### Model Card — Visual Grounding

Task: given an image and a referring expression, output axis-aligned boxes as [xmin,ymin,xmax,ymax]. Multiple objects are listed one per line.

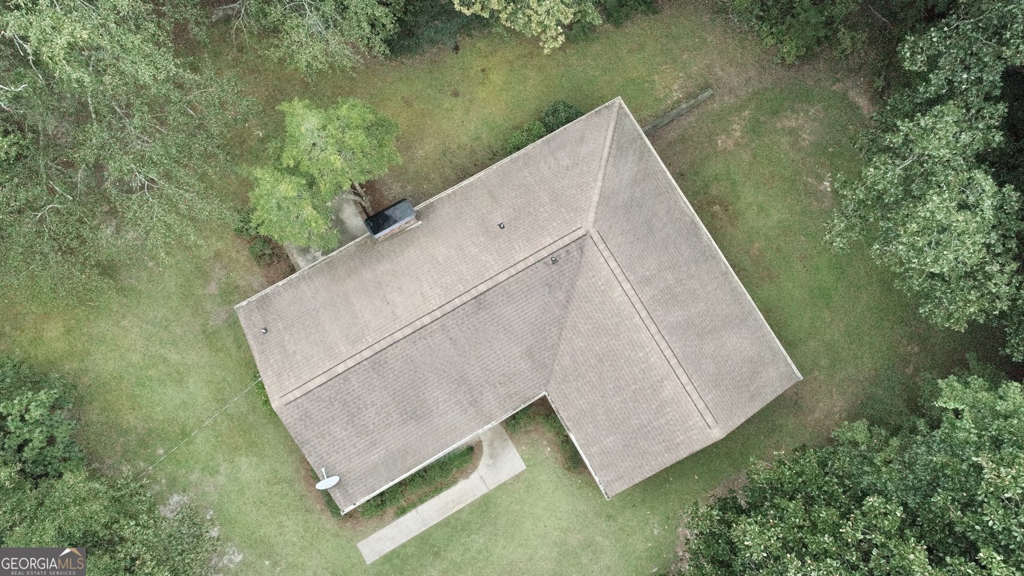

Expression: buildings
[235,98,801,514]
